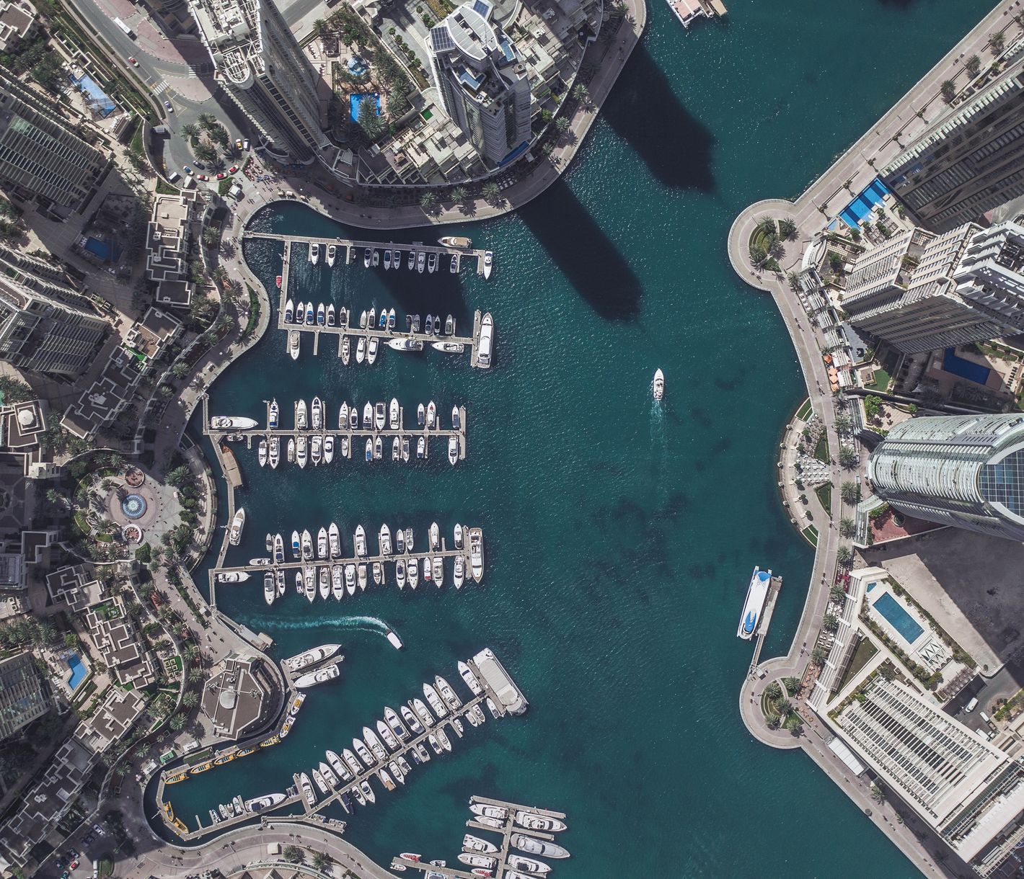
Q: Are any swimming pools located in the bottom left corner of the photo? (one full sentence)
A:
Yes, the scene does show a swimming pool in the bottom left corner of the photo.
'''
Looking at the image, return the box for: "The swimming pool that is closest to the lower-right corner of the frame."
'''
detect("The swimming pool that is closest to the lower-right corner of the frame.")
[872,591,925,646]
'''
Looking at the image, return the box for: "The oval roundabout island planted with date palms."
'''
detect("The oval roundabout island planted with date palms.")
[188,120,232,165]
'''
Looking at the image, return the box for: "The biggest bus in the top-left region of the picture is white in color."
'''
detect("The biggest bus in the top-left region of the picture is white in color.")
[112,13,133,38]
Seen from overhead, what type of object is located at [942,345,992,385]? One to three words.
swimming pool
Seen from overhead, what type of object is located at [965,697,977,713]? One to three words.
vehicle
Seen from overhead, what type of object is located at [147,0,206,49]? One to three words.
building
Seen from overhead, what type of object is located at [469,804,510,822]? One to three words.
boat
